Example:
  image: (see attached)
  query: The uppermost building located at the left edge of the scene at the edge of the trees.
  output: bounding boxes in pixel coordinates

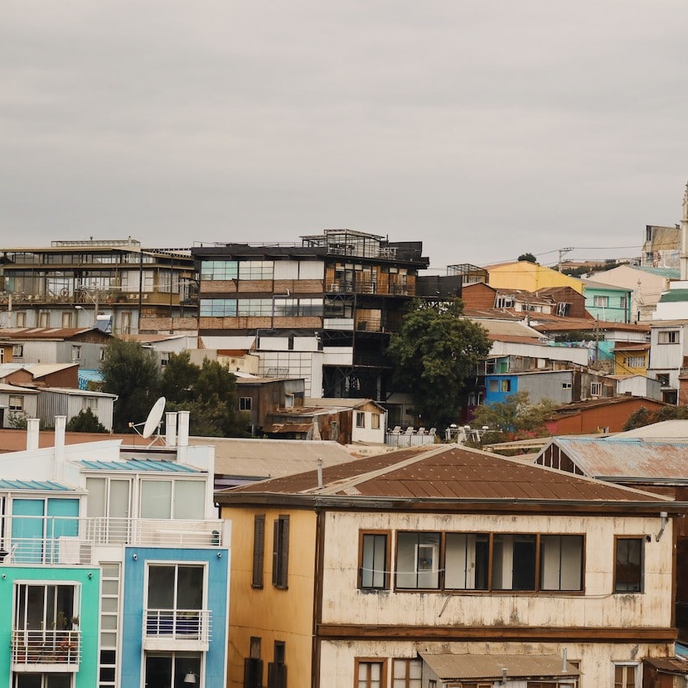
[0,232,209,342]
